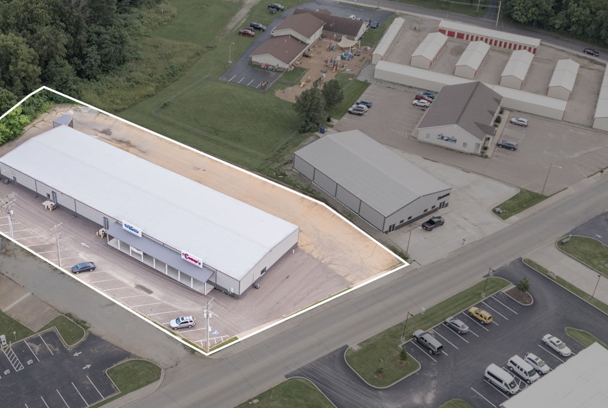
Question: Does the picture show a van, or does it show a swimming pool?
van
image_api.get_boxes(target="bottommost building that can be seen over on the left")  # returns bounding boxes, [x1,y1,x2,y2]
[0,124,302,299]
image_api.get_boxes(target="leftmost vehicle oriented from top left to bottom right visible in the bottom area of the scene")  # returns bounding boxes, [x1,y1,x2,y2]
[411,329,446,356]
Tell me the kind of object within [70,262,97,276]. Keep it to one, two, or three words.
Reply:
vehicle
